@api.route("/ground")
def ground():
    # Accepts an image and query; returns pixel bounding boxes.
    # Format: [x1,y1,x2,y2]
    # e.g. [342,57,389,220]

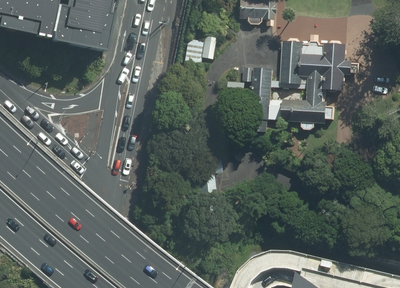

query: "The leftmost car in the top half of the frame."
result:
[2,99,18,114]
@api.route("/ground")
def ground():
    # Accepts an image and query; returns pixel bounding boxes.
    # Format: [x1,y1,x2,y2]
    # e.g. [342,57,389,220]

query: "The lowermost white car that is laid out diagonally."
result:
[70,160,86,174]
